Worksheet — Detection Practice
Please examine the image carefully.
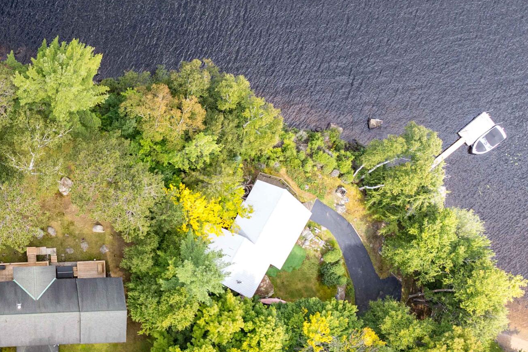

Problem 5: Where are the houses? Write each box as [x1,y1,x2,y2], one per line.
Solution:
[200,172,312,298]
[0,247,126,352]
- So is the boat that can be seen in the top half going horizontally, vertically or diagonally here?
diagonally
